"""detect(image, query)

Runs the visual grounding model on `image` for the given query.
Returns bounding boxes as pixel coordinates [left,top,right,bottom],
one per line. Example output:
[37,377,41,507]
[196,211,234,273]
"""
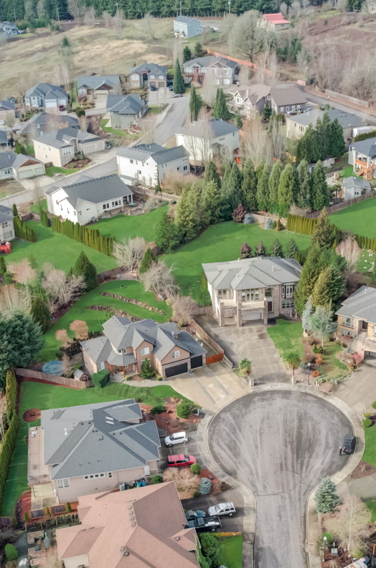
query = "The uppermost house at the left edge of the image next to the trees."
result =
[0,21,22,45]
